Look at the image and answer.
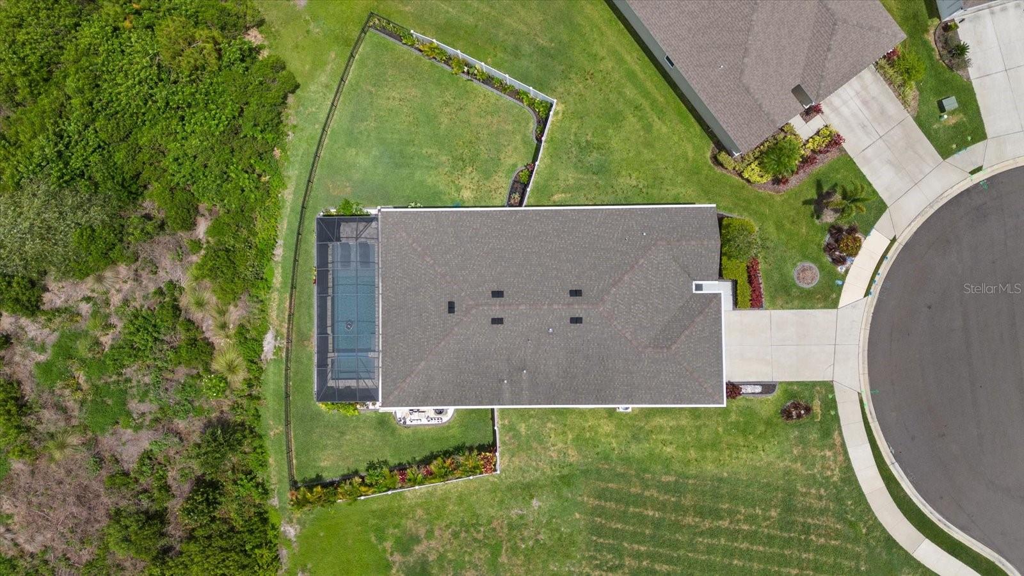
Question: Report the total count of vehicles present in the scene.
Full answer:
There are no vehicles in the image.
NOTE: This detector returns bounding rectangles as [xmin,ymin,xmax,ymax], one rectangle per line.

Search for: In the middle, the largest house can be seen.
[378,204,726,410]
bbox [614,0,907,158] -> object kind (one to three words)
house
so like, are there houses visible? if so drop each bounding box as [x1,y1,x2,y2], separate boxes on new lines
[934,0,1024,23]
[378,204,726,410]
[614,0,907,158]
